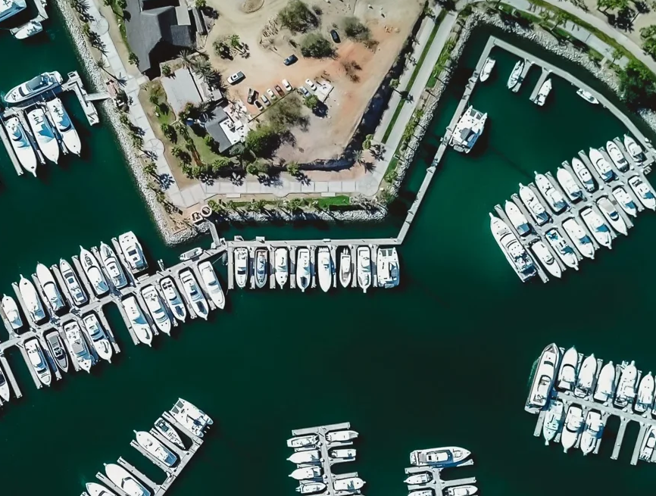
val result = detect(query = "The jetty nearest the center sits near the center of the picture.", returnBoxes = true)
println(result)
[226,238,399,288]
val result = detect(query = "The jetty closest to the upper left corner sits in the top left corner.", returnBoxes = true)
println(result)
[12,0,47,32]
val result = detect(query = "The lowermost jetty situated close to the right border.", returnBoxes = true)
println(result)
[534,347,656,464]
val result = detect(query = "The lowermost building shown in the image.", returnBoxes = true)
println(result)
[206,107,242,153]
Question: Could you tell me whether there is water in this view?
Yes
